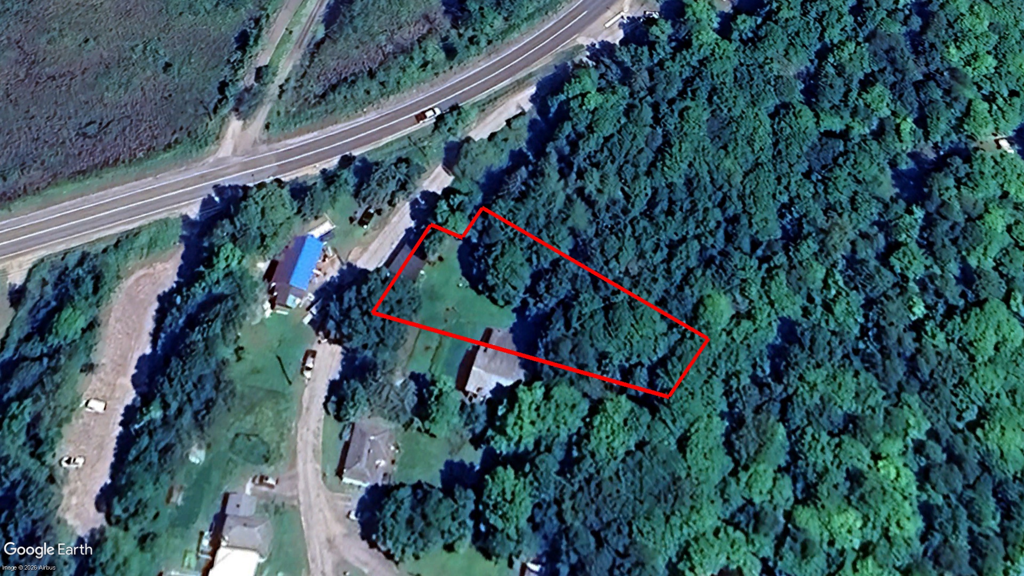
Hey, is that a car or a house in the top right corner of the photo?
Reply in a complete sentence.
You can see a car in the top right corner of the photo.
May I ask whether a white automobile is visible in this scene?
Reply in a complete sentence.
Yes, the picture does show a white automobile.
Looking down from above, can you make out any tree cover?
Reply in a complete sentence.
Yes, there's tree cover in this view.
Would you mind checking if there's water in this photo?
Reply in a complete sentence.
No, there is no water in the image.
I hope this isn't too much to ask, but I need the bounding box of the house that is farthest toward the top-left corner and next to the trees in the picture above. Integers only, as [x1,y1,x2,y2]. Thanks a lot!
[267,234,324,313]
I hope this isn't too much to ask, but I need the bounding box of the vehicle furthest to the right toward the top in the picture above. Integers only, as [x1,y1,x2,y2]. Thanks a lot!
[997,135,1014,155]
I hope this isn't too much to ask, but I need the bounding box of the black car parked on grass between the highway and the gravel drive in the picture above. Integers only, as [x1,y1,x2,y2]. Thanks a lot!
[358,206,376,227]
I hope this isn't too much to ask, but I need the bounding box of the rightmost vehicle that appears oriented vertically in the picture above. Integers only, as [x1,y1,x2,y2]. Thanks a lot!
[303,351,316,379]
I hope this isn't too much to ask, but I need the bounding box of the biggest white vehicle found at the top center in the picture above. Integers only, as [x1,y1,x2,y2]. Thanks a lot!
[415,107,442,125]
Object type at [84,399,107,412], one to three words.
vehicle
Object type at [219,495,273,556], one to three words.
house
